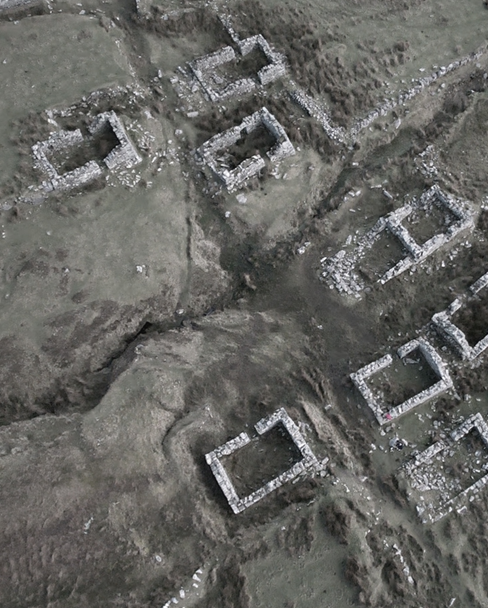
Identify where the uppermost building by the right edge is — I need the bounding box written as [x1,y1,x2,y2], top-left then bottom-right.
[322,183,477,298]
